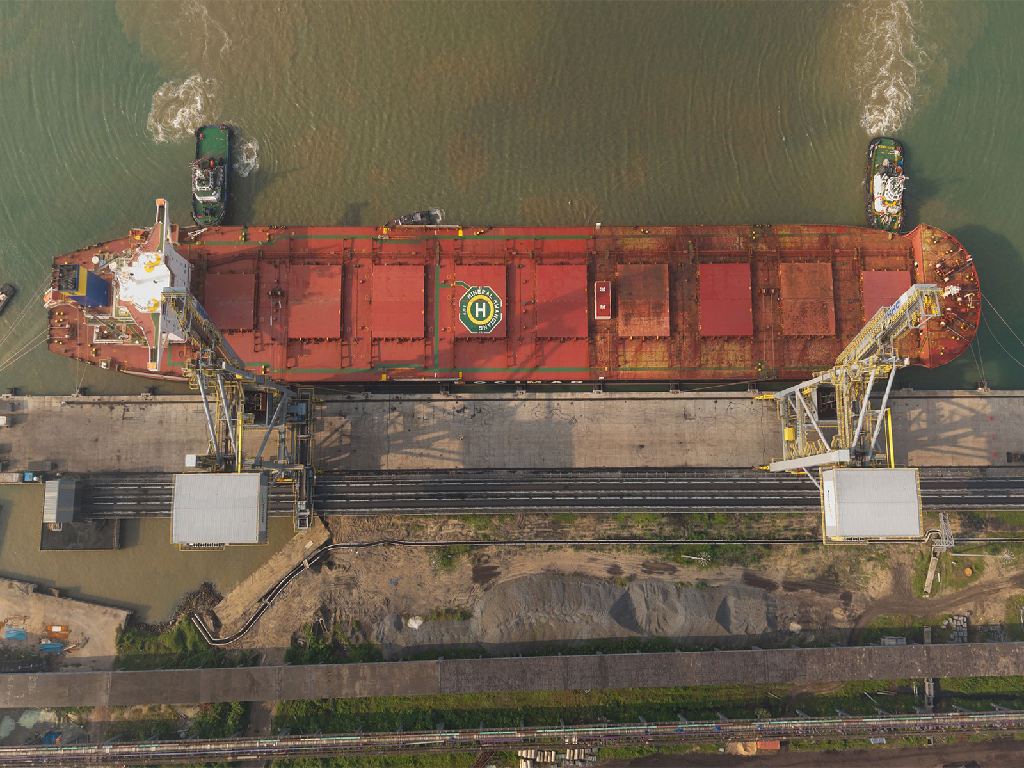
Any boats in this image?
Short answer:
Yes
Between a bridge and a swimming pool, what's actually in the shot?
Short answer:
bridge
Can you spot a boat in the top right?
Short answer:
Yes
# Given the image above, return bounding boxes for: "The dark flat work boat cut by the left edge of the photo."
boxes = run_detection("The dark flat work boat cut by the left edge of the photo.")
[0,278,22,317]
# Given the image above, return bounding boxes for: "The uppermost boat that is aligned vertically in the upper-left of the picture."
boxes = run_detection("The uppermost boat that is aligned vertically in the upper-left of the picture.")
[192,125,232,226]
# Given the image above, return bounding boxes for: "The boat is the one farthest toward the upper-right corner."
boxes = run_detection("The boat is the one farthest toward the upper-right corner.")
[866,135,910,231]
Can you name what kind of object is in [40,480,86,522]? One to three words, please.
shed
